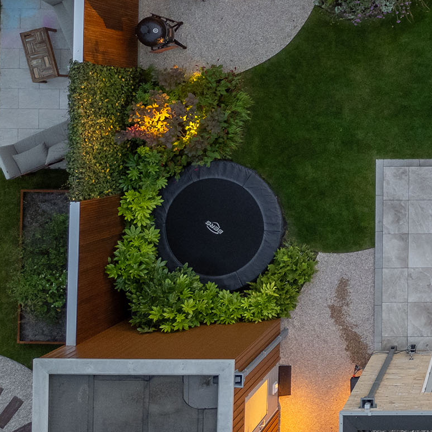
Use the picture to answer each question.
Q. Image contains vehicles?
No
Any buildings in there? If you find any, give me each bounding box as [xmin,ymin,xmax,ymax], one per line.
[30,318,290,432]
[342,346,432,432]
